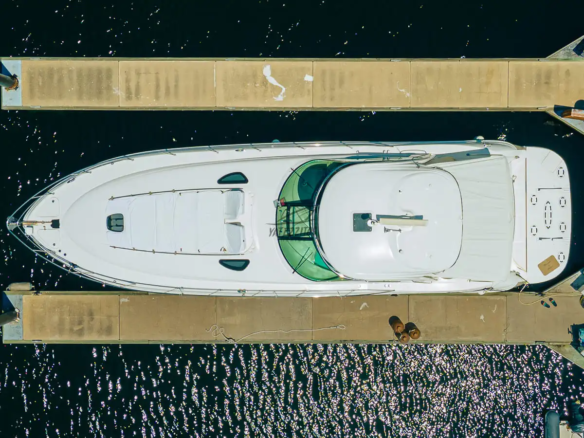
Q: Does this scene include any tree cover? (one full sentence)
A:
No, the picture contains no tree cover.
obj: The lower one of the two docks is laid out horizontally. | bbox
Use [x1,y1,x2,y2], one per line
[3,267,584,368]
